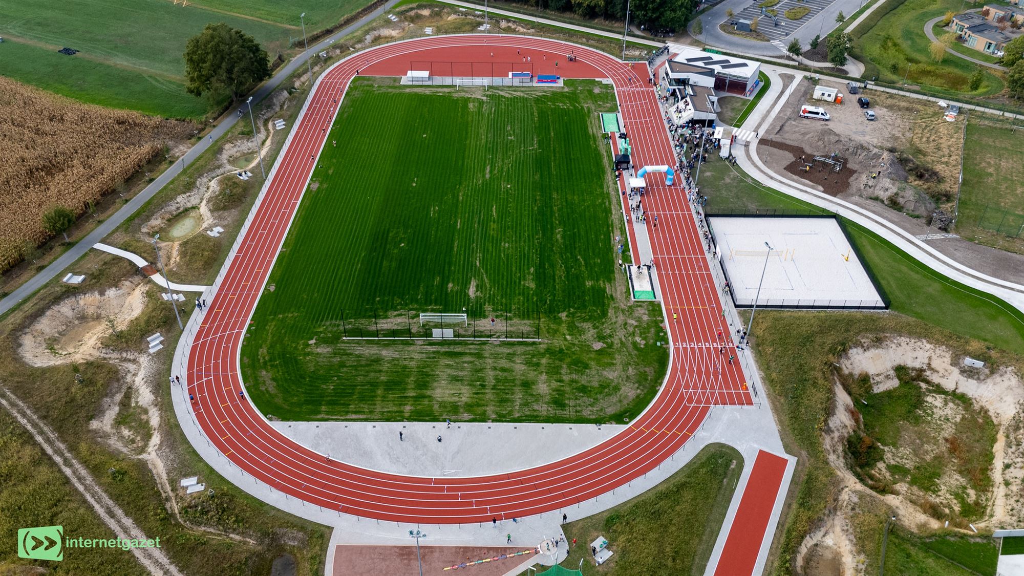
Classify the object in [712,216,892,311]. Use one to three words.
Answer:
sports court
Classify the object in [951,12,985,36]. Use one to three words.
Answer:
house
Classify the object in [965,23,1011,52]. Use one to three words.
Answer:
house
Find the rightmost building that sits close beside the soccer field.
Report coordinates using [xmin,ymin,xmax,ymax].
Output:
[665,48,760,127]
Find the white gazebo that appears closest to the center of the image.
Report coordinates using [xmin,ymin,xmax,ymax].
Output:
[628,175,647,192]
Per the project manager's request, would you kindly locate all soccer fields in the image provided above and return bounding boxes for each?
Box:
[241,78,668,425]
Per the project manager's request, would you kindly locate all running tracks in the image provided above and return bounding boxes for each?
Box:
[187,36,755,522]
